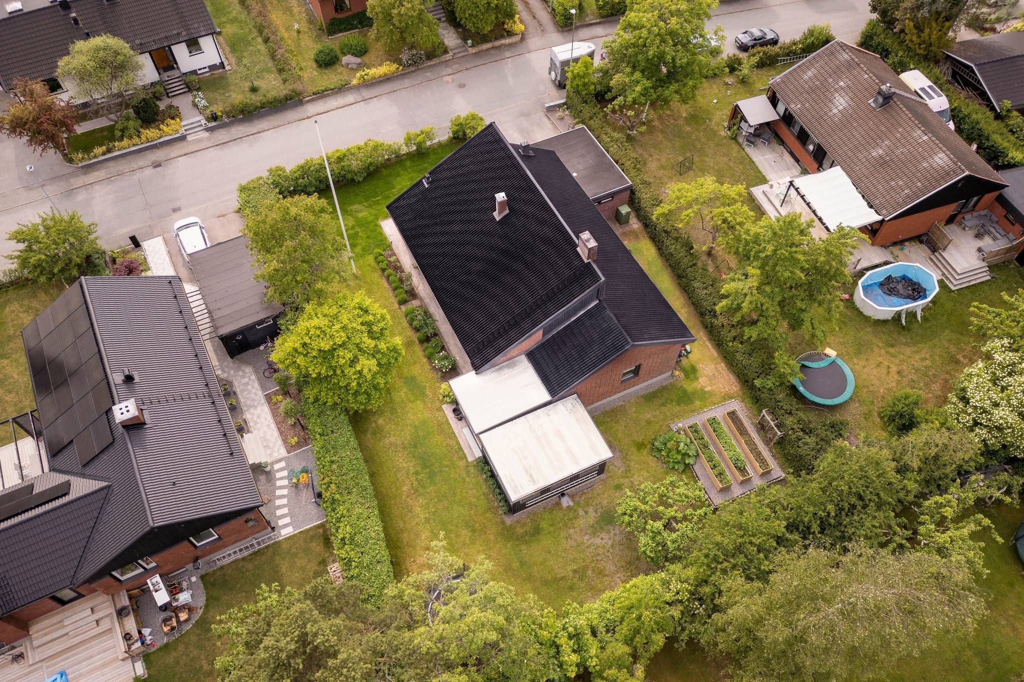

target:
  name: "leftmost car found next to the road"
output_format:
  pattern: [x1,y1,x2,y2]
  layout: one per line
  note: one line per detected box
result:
[173,217,213,270]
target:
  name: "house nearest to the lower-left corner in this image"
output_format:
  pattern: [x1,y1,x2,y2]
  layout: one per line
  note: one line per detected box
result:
[0,273,278,643]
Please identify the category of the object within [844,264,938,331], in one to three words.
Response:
swimming pool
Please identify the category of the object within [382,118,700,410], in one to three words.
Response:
house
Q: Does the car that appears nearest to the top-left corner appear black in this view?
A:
No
